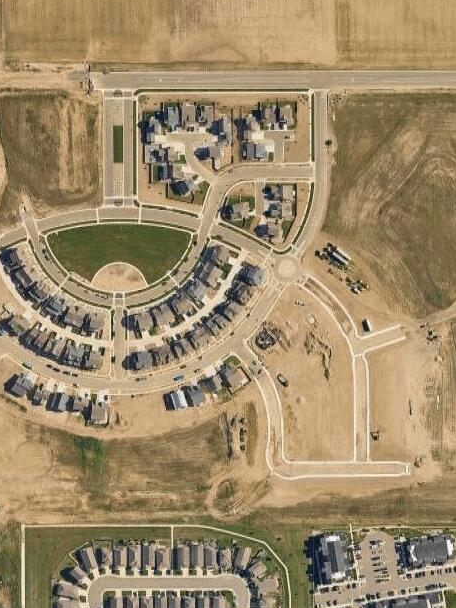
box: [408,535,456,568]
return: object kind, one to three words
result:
building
